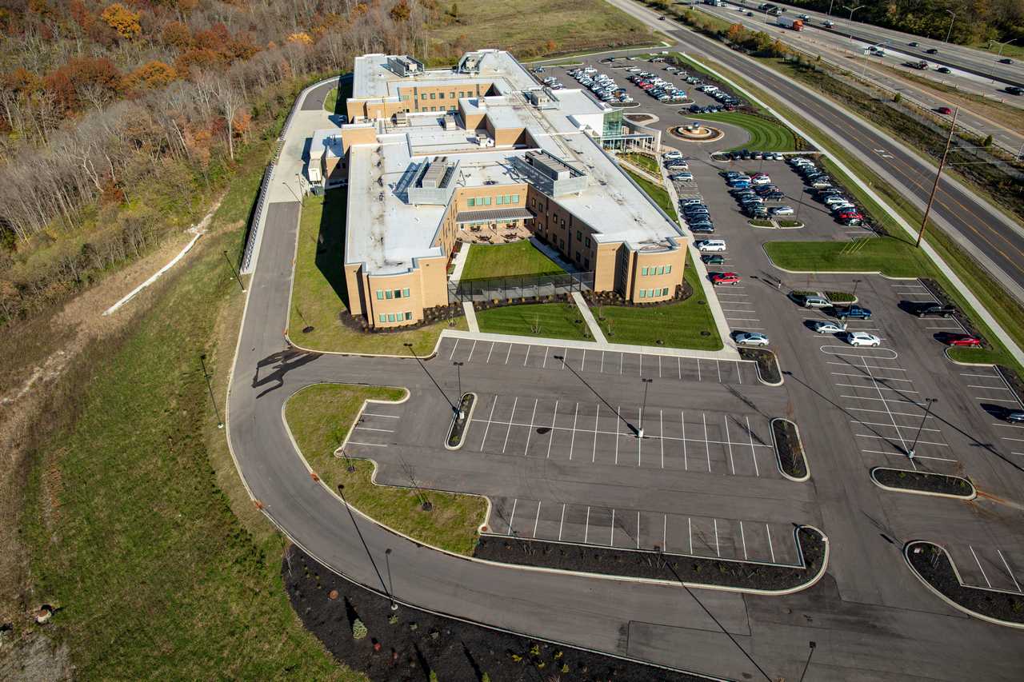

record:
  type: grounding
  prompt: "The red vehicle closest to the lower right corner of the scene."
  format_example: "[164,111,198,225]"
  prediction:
[945,334,983,349]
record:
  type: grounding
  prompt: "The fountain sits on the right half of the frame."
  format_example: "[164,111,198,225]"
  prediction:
[679,121,711,138]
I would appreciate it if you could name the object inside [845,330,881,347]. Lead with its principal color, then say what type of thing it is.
white car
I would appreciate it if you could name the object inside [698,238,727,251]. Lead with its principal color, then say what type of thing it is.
white vehicle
